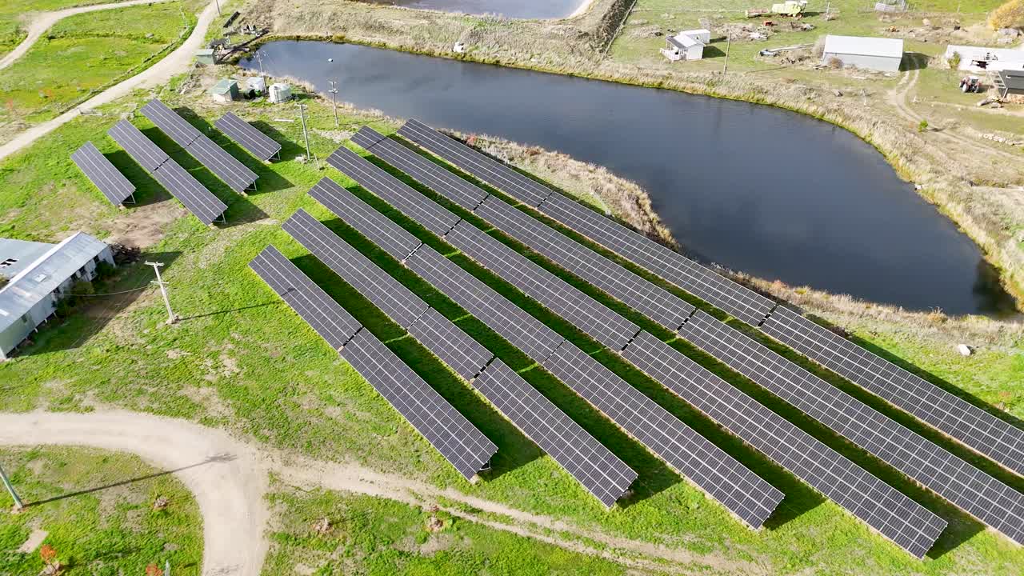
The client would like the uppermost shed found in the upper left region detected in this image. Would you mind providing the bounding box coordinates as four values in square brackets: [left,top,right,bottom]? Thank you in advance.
[194,49,220,64]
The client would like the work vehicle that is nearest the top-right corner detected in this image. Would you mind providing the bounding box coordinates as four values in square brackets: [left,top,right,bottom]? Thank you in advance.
[963,76,982,91]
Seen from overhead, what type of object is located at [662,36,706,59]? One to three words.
building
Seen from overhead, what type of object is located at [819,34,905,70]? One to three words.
shed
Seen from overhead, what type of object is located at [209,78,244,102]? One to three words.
shed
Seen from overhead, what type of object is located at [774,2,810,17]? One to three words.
work vehicle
